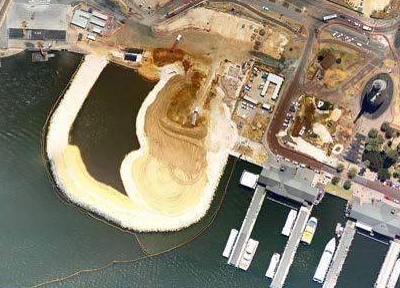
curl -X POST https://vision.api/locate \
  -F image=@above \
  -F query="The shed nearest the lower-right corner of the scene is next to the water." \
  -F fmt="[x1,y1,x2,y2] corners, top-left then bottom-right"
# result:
[348,196,400,240]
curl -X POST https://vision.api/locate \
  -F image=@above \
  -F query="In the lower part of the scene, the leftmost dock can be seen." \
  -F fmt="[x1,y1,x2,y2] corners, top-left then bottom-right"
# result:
[229,186,265,266]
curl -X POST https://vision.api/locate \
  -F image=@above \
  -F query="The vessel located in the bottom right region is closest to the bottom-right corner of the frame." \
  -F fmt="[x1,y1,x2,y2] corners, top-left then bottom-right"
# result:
[387,260,400,288]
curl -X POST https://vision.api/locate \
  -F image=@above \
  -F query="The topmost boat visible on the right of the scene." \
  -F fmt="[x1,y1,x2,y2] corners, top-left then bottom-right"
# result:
[238,170,259,188]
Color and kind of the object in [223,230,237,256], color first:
white ship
